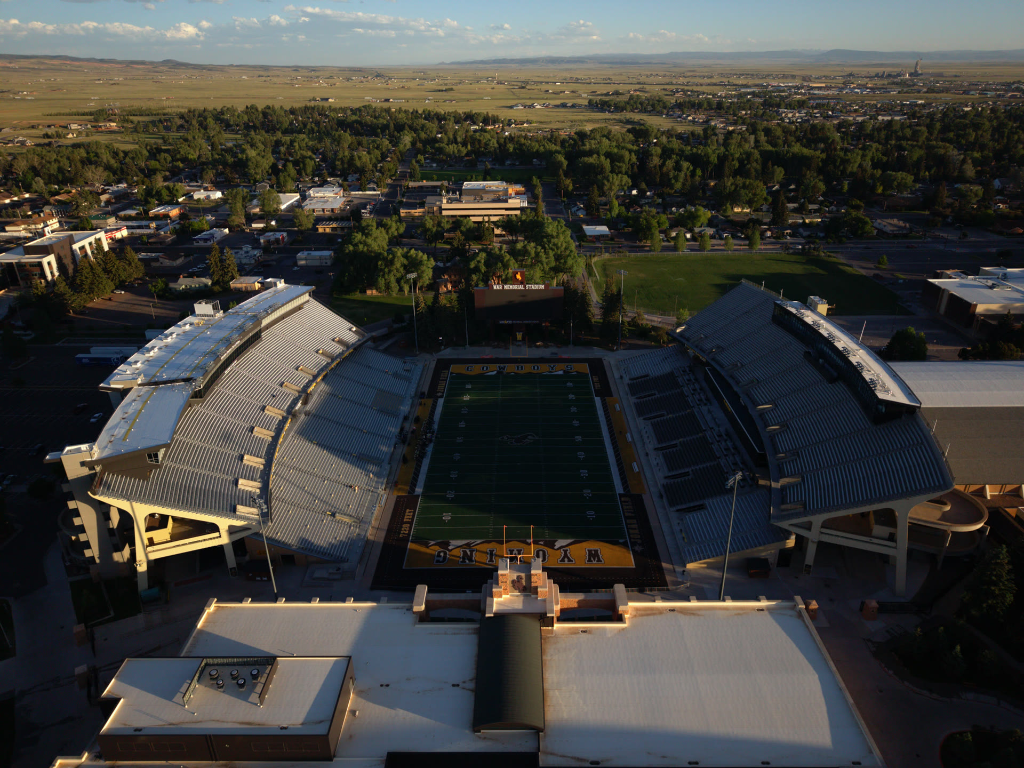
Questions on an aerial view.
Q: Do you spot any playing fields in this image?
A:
Yes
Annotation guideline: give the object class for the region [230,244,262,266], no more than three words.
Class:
building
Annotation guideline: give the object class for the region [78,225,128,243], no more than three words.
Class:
building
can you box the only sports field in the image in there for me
[379,363,660,584]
